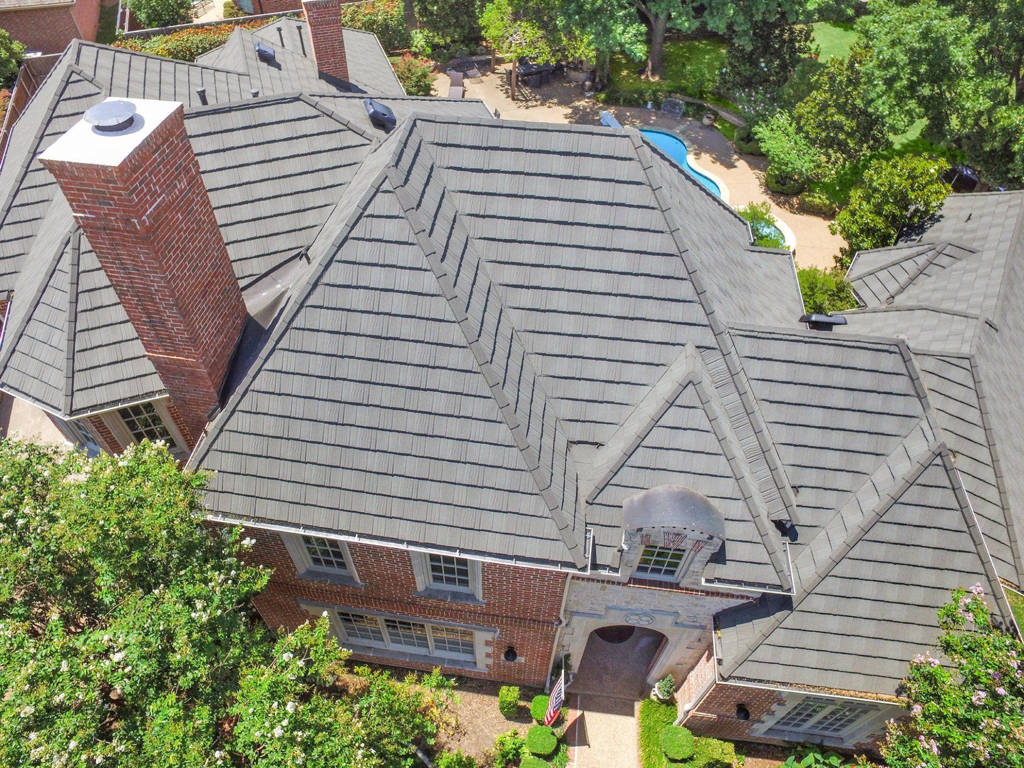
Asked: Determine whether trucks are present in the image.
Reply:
No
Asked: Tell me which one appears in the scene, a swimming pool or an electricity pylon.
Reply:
swimming pool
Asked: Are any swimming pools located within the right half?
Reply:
Yes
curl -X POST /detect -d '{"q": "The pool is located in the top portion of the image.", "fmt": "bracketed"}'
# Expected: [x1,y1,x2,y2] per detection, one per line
[639,130,714,190]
